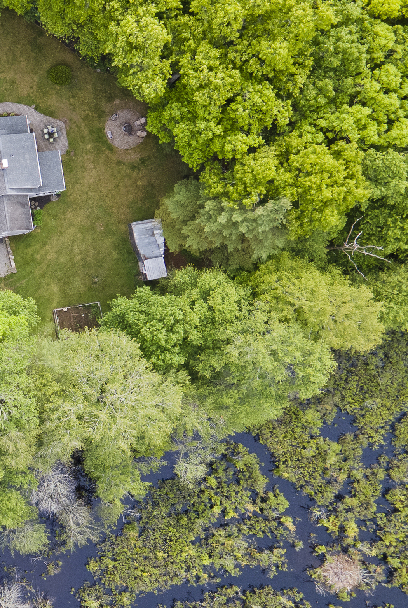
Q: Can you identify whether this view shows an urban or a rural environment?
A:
rural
